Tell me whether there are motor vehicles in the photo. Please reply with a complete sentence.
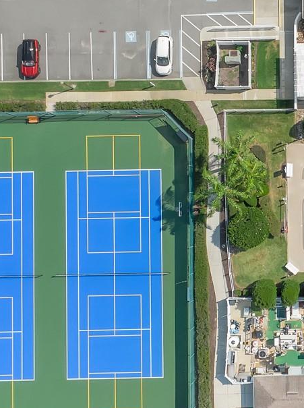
Yes, the frame does contain a motor vehicle.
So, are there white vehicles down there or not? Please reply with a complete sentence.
Yes, the frame does contain a white vehicle.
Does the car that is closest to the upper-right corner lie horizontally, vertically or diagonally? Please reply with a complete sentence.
In this picture, the car that is closest to the upper-right corner lies vertically.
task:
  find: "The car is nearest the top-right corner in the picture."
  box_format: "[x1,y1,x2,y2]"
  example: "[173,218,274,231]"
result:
[154,36,174,76]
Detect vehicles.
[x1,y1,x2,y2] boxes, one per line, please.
[20,39,42,79]
[154,36,174,76]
